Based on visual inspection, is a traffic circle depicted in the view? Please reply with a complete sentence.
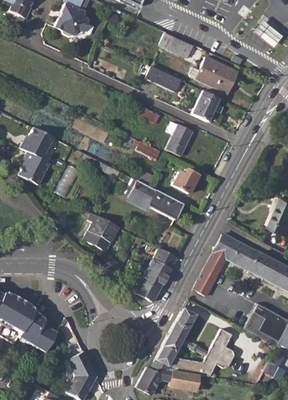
Yes, the frame does contain a traffic circle.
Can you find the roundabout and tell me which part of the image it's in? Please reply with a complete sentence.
Look in the bottom portion of the view to spot the roundabout.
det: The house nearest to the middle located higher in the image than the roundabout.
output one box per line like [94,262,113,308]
[126,178,184,220]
